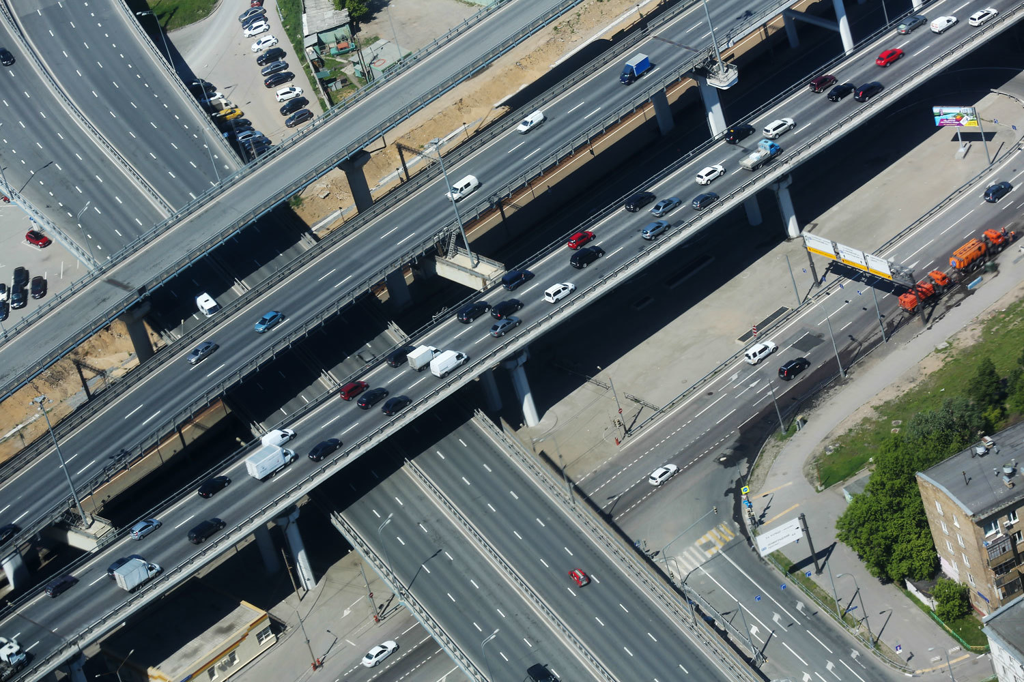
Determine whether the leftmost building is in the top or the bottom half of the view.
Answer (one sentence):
Seen from above, the leftmost building lies in the bottom half of the view.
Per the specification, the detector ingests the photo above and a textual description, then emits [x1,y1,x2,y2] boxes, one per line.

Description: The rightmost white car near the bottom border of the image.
[363,642,397,667]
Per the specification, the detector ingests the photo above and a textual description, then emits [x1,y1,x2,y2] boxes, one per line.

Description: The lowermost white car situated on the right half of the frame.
[648,464,678,486]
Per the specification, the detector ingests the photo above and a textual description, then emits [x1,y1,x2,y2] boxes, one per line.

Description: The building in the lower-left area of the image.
[104,573,279,682]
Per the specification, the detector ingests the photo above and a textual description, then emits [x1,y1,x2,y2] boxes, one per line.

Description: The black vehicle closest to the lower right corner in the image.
[777,357,810,381]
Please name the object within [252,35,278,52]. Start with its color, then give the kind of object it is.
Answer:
white car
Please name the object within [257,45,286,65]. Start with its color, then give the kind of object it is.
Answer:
black car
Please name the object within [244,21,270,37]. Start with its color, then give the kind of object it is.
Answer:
white car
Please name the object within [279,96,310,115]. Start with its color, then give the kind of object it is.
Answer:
black car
